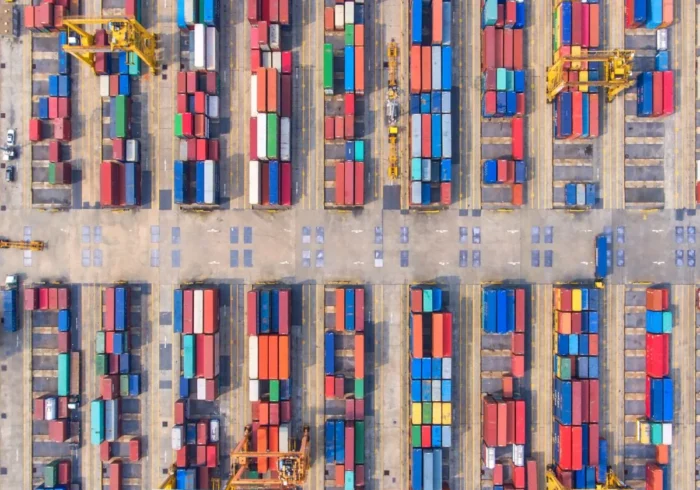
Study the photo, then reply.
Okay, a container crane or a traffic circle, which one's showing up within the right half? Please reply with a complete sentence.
Looking within the right half, you will find a container crane.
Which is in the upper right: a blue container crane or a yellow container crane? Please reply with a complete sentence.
Visible in the upper right is a yellow container crane.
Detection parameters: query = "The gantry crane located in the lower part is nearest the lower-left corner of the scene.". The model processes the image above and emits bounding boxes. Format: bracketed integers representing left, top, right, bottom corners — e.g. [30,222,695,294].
[150,462,237,490]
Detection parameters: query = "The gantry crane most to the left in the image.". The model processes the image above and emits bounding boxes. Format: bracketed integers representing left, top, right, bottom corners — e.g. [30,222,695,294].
[62,14,157,76]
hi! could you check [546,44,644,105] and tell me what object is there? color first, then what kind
yellow container crane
